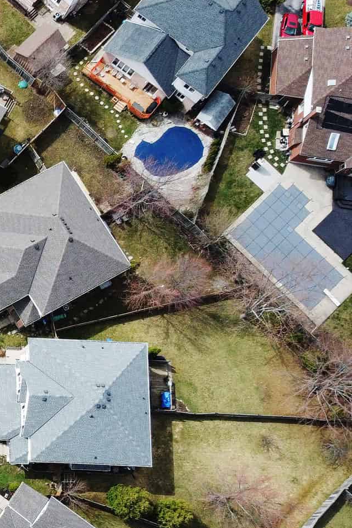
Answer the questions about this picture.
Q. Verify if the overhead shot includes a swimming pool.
Yes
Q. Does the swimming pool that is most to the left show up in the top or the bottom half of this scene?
top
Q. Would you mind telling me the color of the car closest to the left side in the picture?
red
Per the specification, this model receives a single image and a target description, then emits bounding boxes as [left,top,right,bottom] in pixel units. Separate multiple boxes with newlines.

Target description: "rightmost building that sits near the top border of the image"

[265,14,352,174]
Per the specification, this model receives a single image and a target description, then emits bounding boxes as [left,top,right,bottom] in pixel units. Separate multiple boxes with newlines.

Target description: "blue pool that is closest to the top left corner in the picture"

[132,123,207,179]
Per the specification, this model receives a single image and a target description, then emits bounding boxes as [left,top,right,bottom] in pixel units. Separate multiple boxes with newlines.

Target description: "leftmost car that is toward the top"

[279,11,301,39]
